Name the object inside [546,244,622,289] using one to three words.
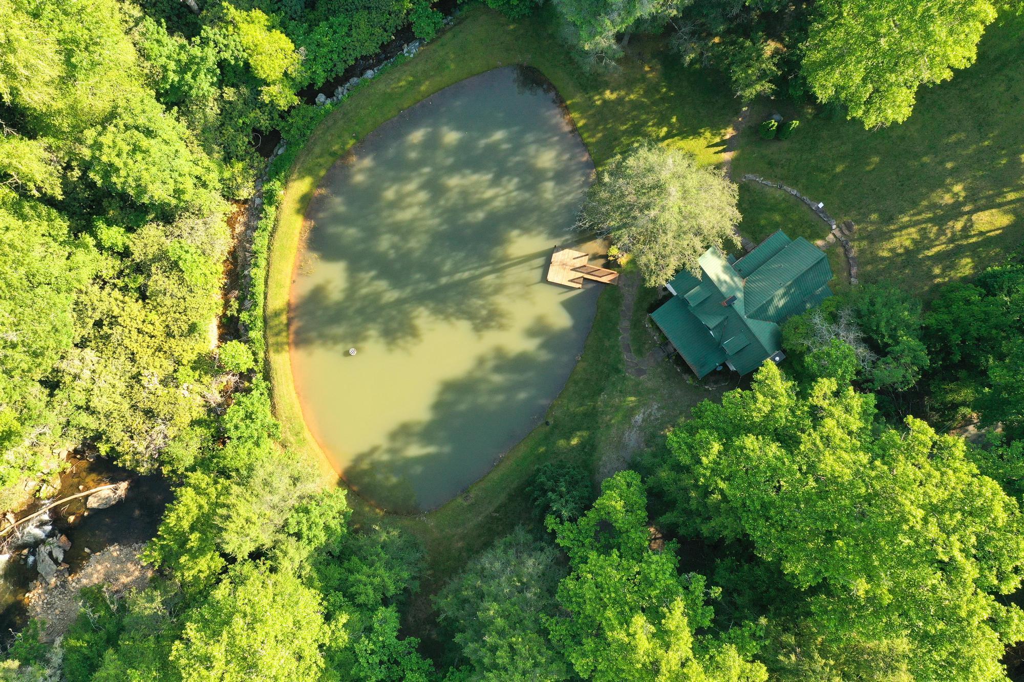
pier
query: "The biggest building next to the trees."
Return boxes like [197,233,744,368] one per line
[648,227,834,403]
